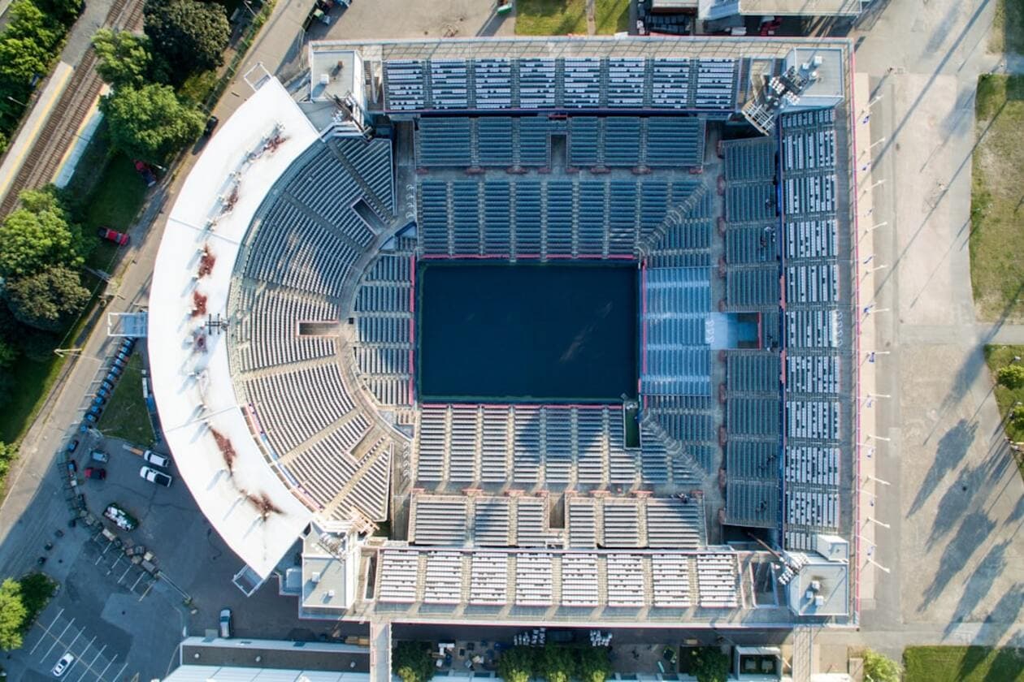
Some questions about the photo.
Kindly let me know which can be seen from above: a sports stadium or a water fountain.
sports stadium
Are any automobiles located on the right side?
No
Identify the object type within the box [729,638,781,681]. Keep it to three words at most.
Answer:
building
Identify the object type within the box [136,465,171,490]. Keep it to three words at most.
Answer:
truck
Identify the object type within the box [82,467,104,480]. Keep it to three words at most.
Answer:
vehicle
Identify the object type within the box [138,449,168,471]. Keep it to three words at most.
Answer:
car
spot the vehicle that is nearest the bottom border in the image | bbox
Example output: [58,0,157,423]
[49,653,73,681]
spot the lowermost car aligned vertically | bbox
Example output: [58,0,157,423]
[217,609,231,640]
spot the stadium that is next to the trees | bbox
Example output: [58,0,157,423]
[107,35,862,634]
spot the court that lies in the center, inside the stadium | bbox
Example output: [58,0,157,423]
[416,259,640,405]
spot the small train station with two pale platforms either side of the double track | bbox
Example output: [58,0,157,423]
[0,62,116,209]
